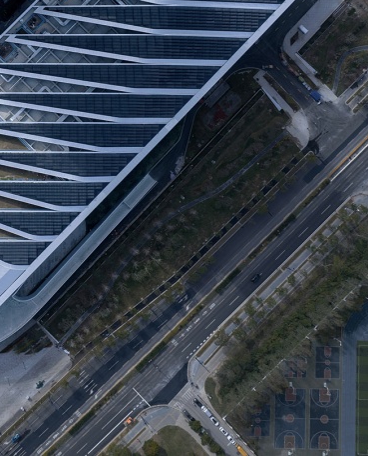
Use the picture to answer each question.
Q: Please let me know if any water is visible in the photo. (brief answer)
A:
No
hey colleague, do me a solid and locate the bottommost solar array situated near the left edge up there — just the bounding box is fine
[0,242,40,262]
